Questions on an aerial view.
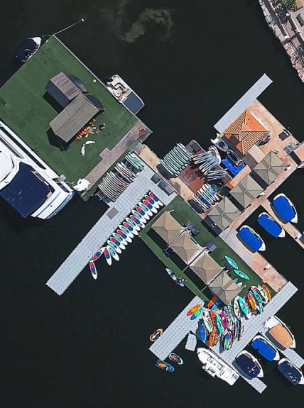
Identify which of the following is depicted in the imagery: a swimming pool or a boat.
boat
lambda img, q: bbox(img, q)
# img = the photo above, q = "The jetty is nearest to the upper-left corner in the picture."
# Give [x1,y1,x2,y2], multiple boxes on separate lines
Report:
[0,34,153,201]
